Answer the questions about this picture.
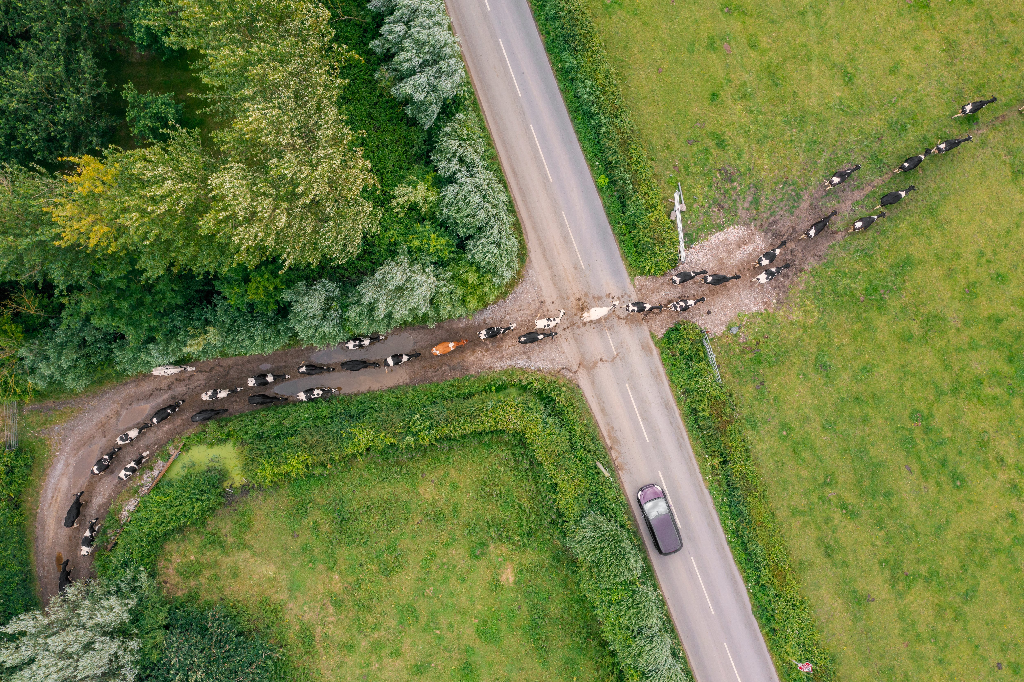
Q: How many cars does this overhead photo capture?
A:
1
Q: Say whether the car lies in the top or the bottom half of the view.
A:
bottom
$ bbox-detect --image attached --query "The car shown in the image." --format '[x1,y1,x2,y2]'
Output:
[638,483,685,558]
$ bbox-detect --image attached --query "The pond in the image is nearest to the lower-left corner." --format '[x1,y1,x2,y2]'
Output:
[156,440,251,494]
